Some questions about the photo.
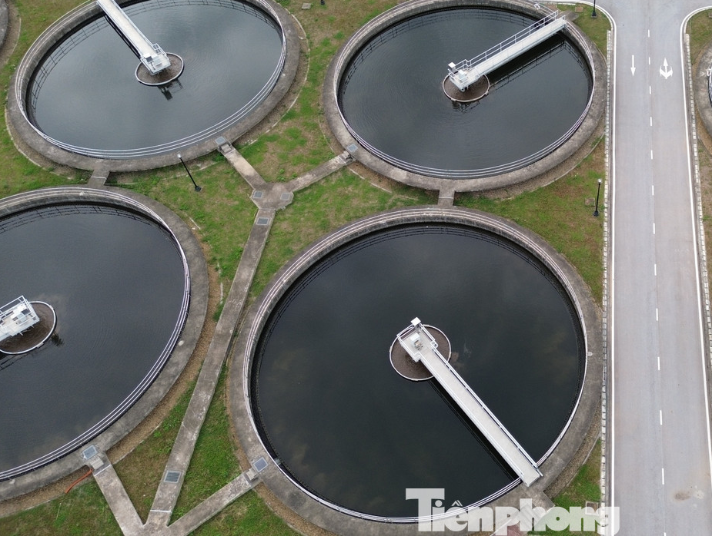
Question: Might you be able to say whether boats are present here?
No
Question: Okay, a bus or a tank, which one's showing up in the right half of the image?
tank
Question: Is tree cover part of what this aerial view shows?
No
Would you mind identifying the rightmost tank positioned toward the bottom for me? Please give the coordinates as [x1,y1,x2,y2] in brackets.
[230,204,606,536]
